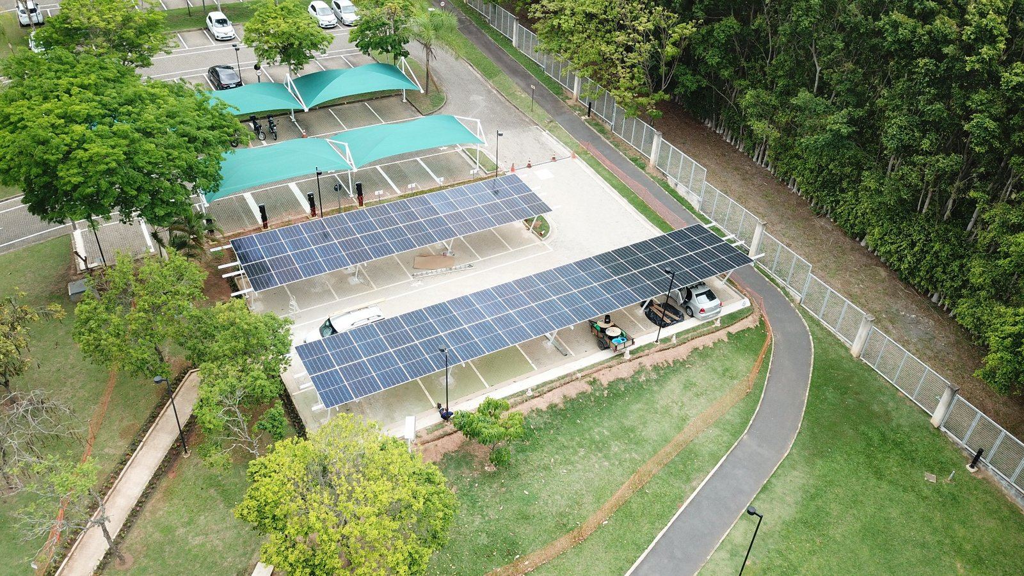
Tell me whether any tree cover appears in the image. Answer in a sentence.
Yes, the picture does contain tree cover.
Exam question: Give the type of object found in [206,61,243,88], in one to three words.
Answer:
car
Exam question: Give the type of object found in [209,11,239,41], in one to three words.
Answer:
car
